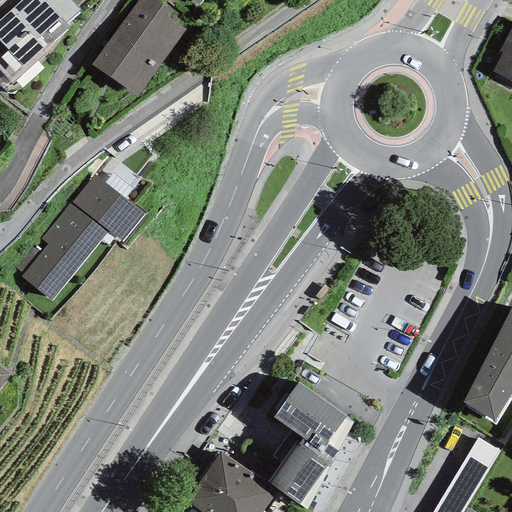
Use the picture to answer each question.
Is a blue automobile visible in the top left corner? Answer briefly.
No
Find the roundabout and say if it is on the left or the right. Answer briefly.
right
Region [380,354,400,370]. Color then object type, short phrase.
white car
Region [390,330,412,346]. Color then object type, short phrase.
blue car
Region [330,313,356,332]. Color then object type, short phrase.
white vehicle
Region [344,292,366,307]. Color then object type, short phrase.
white car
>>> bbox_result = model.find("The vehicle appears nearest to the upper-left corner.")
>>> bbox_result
[115,135,136,152]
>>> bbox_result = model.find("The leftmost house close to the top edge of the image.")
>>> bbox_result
[0,0,82,84]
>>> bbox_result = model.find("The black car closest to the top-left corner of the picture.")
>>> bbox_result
[201,219,216,244]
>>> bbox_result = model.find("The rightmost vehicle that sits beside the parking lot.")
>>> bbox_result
[461,269,474,290]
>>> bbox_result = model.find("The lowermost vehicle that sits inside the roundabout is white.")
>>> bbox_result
[393,155,417,168]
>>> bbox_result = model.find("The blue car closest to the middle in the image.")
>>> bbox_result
[350,279,373,296]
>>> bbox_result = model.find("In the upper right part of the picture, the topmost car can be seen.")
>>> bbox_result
[402,54,423,70]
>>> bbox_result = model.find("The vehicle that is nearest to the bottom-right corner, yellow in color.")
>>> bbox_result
[446,426,463,452]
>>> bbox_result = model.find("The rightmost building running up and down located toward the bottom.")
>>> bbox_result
[464,314,512,426]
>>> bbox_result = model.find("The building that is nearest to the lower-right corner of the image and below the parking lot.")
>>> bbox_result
[432,437,501,512]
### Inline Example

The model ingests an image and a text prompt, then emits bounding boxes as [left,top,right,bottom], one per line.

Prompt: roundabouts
[321,32,469,180]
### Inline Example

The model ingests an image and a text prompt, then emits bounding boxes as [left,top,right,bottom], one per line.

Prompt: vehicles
[330,313,356,332]
[380,354,400,370]
[461,269,474,290]
[201,219,216,244]
[203,413,220,434]
[446,426,463,452]
[300,368,322,386]
[421,354,436,375]
[338,302,359,318]
[115,135,136,152]
[384,342,406,356]
[222,385,241,408]
[393,155,417,168]
[350,279,373,296]
[390,330,412,346]
[344,292,366,307]
[402,54,423,70]
[357,268,381,285]
[390,316,417,335]
[362,258,385,274]
[408,294,430,312]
